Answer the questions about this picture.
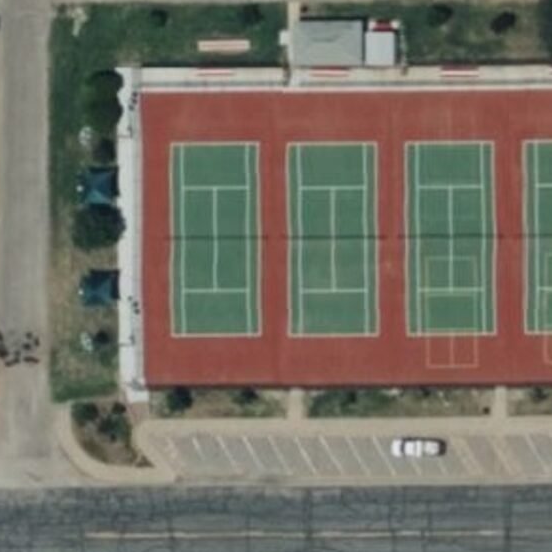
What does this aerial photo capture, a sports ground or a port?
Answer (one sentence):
The picture captures a sports ground.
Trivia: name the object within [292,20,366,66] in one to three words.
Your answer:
building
